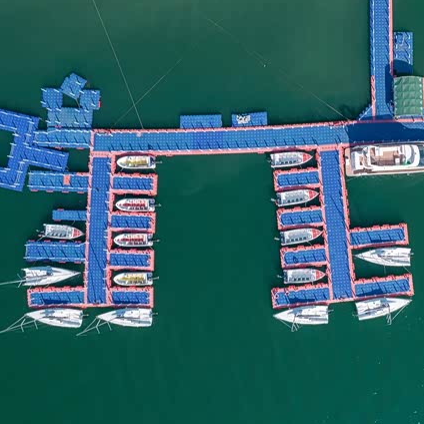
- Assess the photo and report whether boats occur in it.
Yes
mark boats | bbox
[83,308,160,336]
[274,306,335,334]
[38,225,85,242]
[113,272,160,291]
[1,262,83,288]
[113,233,161,252]
[345,142,424,178]
[351,290,413,322]
[115,198,163,216]
[272,191,319,212]
[0,308,90,335]
[278,269,326,288]
[266,153,313,172]
[276,228,323,250]
[116,155,163,174]
[354,248,417,267]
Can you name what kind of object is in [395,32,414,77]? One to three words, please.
pier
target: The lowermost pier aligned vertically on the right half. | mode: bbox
[317,149,356,302]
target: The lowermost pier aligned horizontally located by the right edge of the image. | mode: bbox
[355,274,414,299]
